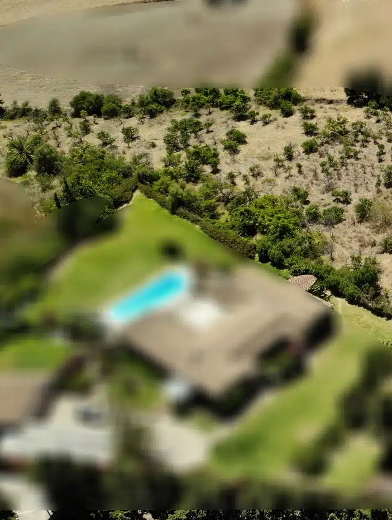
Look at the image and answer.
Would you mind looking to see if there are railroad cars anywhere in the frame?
No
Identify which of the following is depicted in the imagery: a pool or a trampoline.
pool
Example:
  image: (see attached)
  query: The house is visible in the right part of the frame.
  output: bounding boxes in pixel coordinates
[139,266,337,409]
